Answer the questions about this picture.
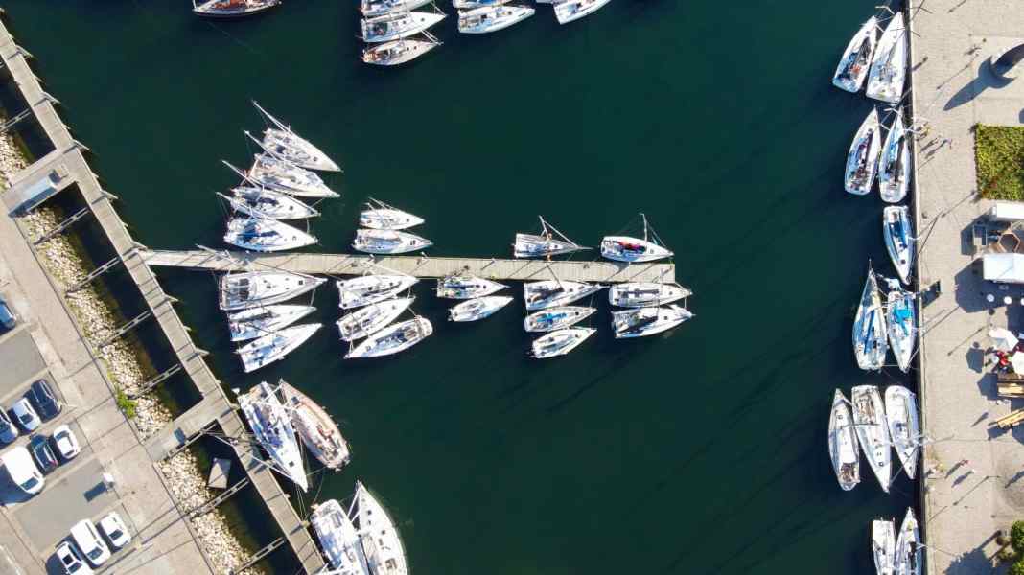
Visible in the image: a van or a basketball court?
van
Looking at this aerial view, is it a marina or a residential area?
marina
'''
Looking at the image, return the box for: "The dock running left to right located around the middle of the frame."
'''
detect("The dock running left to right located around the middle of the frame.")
[142,251,675,283]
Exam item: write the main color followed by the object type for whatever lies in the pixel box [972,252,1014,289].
white gazebo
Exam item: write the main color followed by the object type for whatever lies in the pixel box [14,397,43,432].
white car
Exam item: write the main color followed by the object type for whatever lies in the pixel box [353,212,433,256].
white boat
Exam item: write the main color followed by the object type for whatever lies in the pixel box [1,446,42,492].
white van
